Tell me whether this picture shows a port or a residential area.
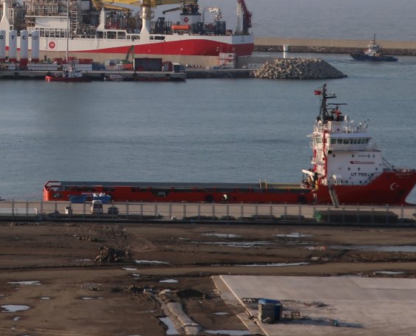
port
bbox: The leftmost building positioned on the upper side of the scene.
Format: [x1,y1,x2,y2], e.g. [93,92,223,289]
[133,58,162,73]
